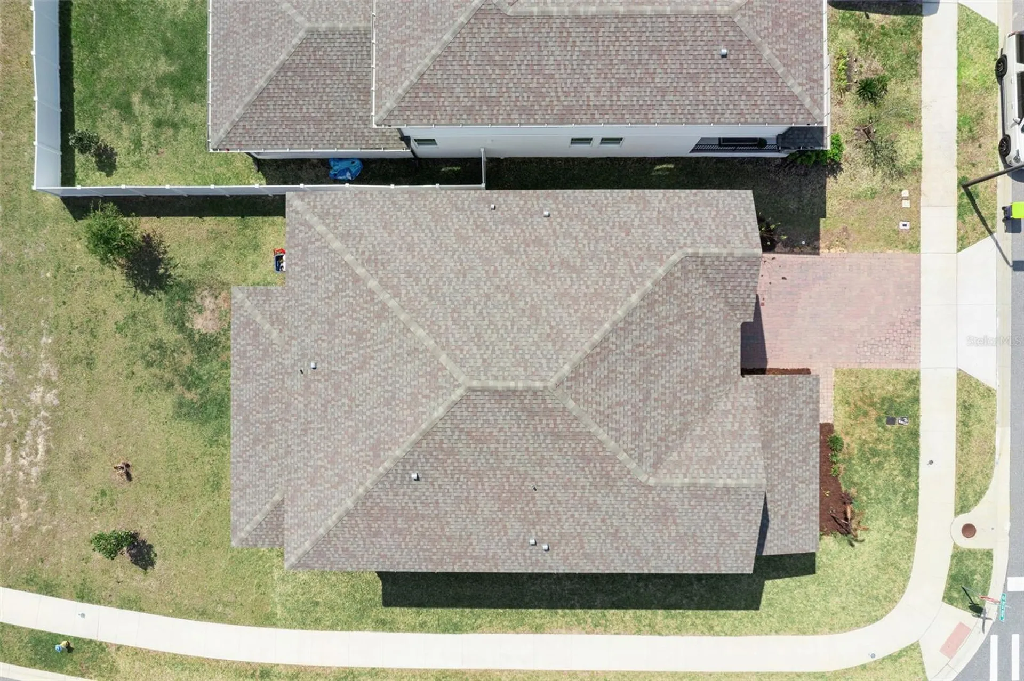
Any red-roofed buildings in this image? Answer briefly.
No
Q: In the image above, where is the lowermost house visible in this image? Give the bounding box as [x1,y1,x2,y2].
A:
[228,187,819,574]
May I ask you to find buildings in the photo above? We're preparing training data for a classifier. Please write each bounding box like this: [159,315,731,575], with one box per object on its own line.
[206,0,830,158]
[228,187,819,574]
